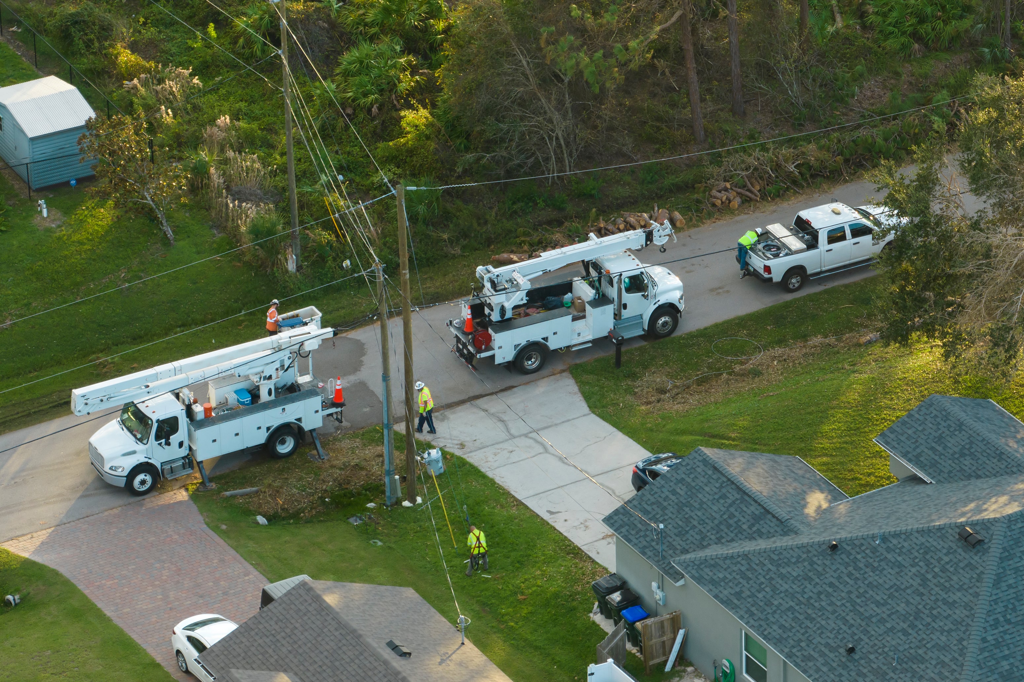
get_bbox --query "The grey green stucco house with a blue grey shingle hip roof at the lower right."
[600,392,1024,682]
